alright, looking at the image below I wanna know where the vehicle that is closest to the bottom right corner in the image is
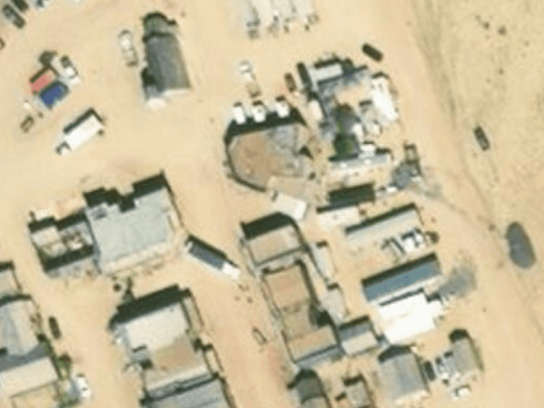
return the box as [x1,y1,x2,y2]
[453,386,471,399]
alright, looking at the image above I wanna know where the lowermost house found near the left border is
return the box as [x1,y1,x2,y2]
[0,344,58,400]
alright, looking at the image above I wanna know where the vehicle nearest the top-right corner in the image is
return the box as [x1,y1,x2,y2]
[473,127,489,151]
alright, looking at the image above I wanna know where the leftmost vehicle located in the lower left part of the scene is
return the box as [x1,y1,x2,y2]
[47,317,62,340]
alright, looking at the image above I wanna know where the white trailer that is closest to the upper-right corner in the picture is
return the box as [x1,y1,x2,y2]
[372,74,401,124]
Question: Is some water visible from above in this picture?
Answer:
No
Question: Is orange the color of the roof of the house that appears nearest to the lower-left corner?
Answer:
No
